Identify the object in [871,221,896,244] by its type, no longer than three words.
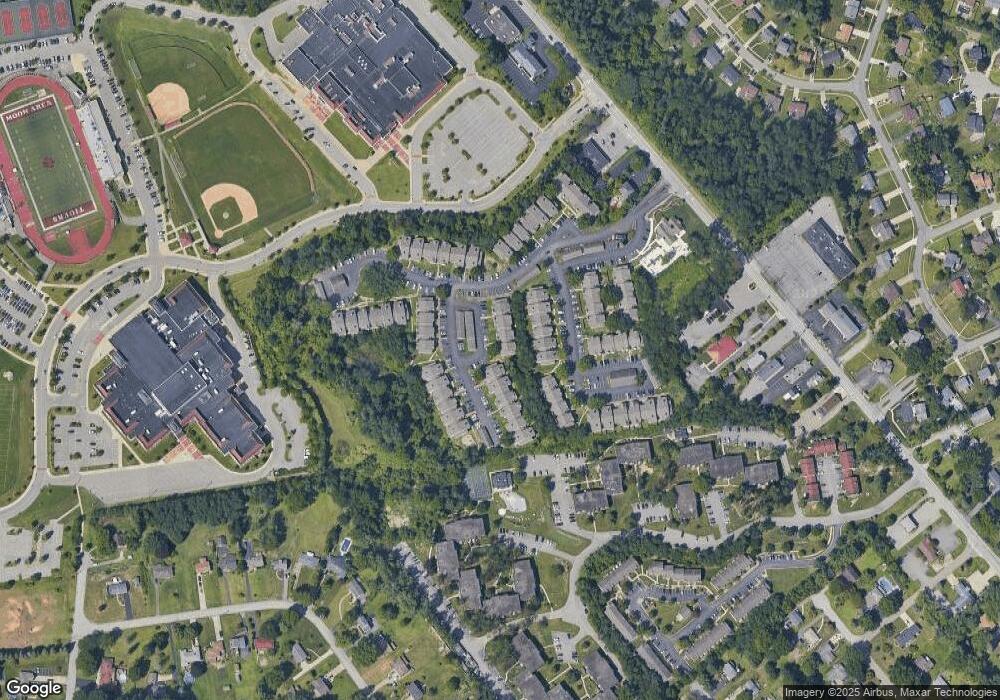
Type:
house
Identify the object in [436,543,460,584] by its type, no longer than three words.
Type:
building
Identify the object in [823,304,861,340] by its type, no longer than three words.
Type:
building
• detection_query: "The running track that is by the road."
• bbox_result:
[0,76,114,263]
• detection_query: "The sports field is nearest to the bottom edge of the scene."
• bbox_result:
[0,352,35,504]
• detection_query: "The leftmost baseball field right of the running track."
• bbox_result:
[129,34,229,130]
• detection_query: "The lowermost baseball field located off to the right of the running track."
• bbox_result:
[176,103,316,246]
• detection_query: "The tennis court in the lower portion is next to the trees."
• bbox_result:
[465,465,491,501]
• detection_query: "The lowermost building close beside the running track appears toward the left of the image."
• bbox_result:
[95,280,265,464]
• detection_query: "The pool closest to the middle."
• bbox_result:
[500,491,526,512]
